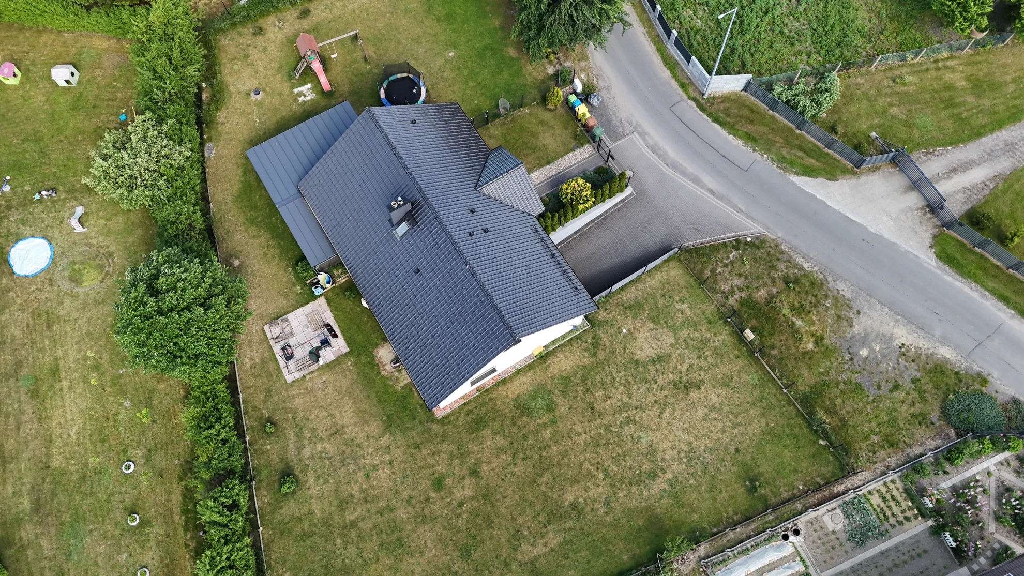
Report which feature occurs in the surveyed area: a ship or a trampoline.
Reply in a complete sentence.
Visible in the photo is a trampoline.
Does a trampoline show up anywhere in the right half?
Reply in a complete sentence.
No, looking in the right half, there is no trampoline.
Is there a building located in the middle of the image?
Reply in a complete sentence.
Yes, a building is visible in the middle of the image.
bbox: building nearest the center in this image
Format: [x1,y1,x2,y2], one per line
[296,101,600,419]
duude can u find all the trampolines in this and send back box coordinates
[376,59,426,105]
